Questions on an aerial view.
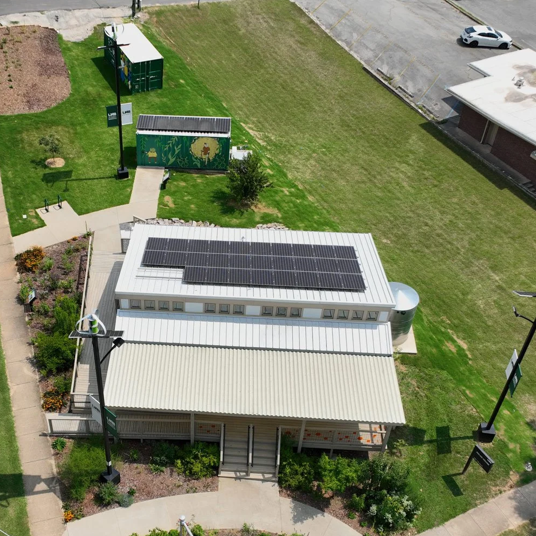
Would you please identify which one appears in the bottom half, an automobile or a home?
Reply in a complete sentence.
Looking in the bottom half, you will find a home.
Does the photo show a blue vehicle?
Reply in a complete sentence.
No, the picture doesn't show any blue vehicle.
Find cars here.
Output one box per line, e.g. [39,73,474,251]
[460,21,523,49]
